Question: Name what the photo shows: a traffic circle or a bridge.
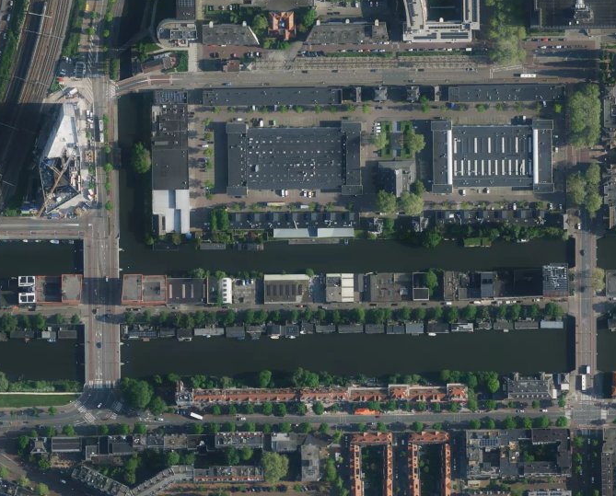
bridge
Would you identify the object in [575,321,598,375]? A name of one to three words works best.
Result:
bridge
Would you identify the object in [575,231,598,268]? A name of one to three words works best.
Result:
bridge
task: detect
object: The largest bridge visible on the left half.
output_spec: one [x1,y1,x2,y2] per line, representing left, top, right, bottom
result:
[83,327,124,389]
